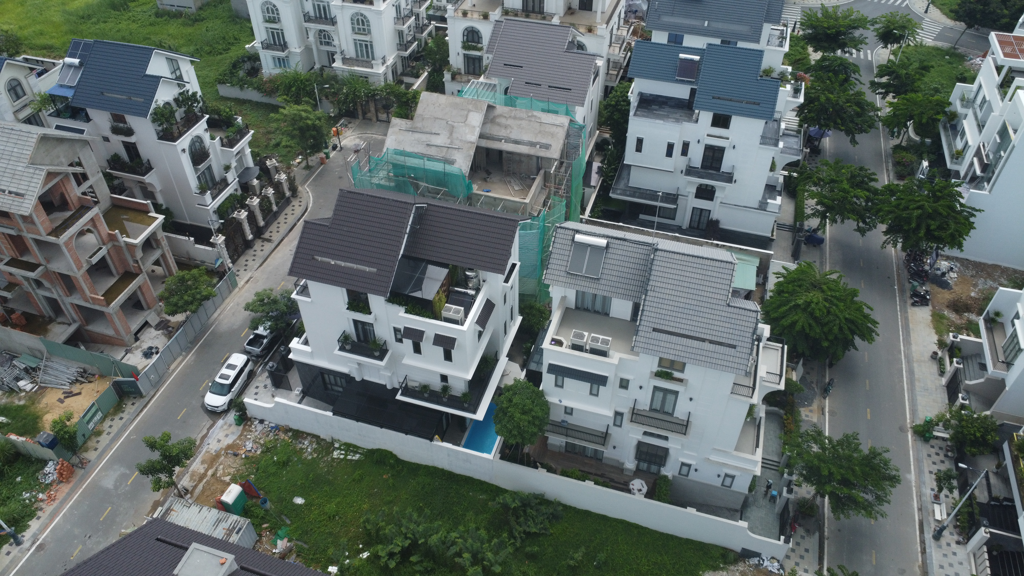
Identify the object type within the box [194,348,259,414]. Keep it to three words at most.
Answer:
car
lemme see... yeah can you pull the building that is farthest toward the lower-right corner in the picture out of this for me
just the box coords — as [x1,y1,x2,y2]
[958,439,1024,576]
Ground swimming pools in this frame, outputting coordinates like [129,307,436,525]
[459,405,510,457]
